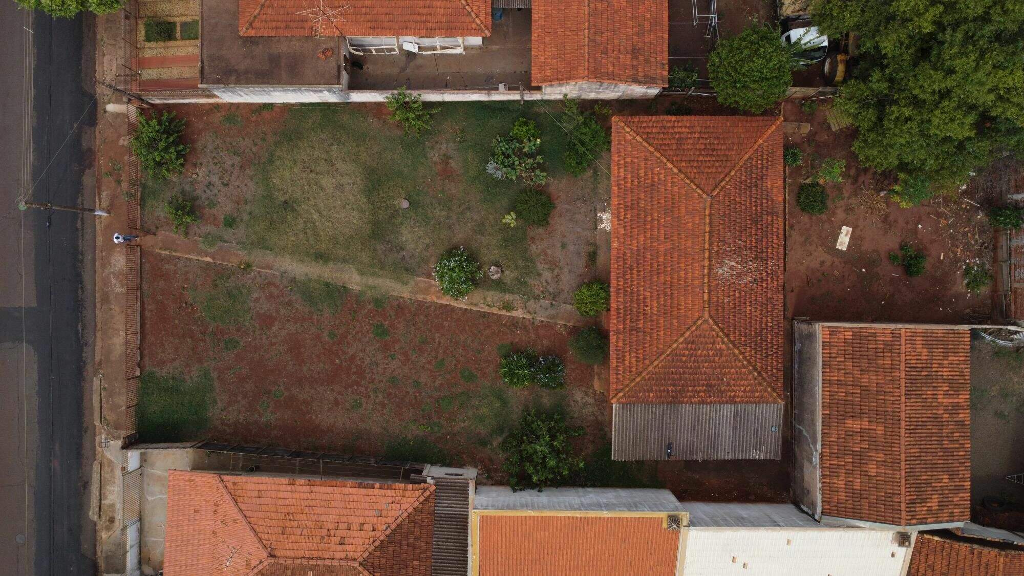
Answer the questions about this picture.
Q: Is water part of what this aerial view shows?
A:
No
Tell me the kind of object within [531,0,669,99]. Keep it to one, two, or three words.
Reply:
shed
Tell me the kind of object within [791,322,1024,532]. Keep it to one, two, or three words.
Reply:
house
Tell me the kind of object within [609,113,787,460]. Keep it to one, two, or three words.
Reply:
house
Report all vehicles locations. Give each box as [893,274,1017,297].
[821,30,877,87]
[762,0,825,72]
